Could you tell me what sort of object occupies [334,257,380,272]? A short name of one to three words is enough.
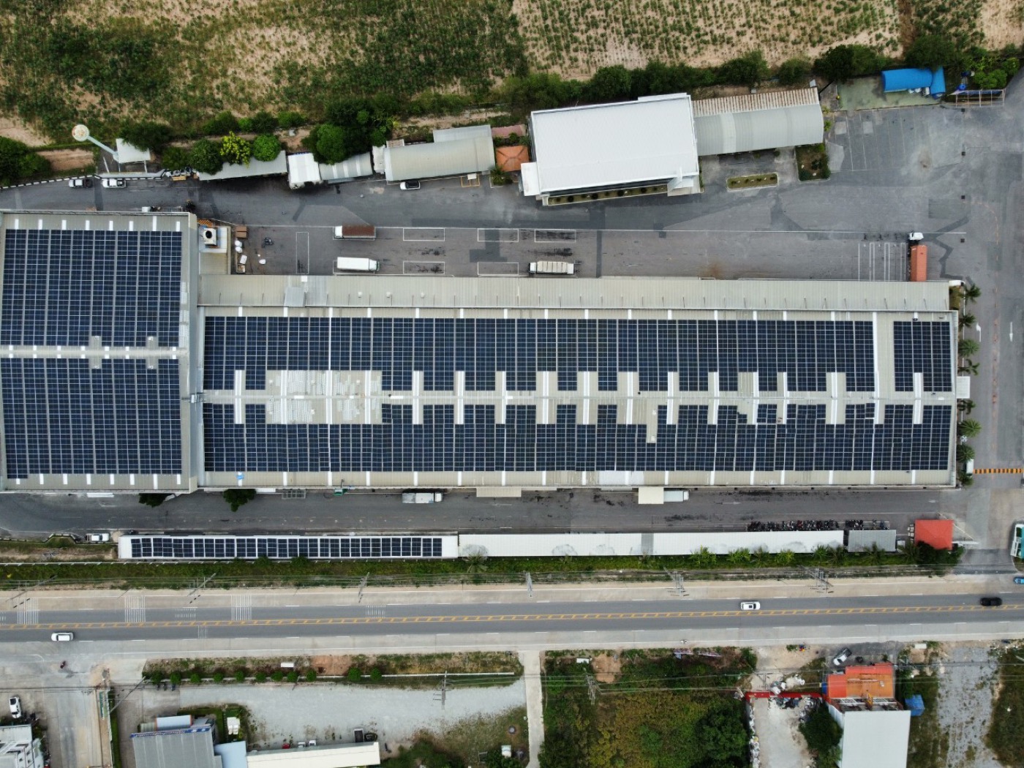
vehicle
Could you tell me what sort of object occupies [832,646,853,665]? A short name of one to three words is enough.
car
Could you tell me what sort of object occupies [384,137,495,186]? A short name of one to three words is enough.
shed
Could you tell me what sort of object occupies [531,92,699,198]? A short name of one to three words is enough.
building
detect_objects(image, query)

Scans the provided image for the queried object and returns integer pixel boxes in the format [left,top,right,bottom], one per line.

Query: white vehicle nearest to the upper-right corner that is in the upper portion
[905,232,924,256]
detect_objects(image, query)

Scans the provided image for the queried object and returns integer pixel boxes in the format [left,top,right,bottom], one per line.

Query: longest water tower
[67,124,119,161]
